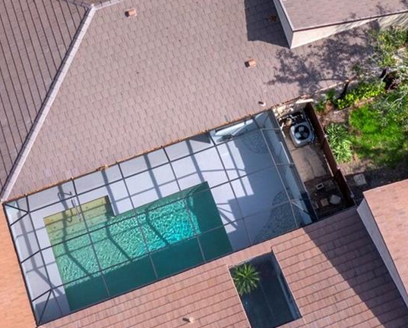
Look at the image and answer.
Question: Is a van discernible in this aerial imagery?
No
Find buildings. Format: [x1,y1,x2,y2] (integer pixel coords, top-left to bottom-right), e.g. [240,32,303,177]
[36,181,408,328]
[0,0,408,200]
